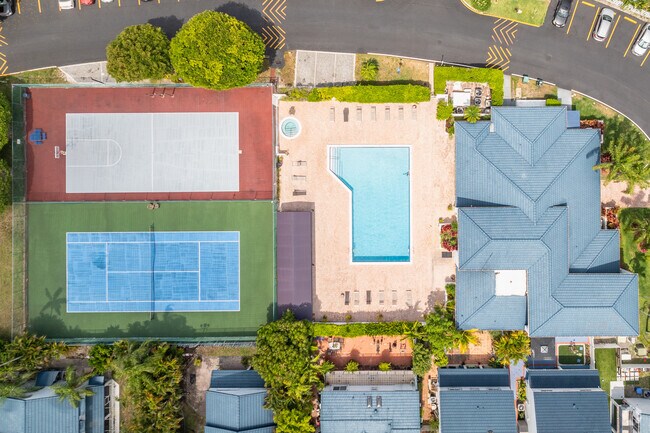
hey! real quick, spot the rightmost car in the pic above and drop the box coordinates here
[630,20,650,57]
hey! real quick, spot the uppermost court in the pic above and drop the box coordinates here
[24,86,272,201]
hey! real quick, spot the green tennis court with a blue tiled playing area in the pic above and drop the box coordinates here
[24,202,272,338]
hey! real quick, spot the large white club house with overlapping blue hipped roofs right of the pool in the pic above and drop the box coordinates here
[453,107,639,337]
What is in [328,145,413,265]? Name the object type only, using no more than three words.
swimming pool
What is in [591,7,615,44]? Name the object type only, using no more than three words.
car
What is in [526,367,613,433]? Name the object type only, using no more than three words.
house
